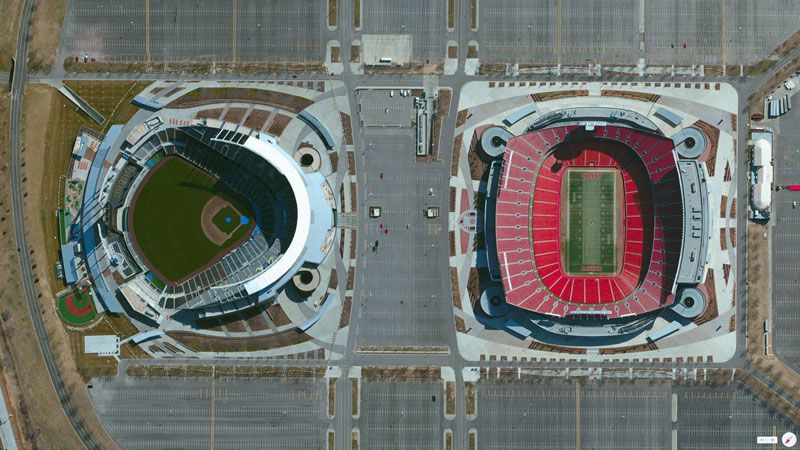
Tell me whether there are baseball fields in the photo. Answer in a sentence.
Yes, there's a baseball field down there.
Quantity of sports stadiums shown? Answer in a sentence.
In total, there are 2 sports stadiums in the scene.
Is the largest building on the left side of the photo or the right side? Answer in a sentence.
The largest building is on the right side of the image.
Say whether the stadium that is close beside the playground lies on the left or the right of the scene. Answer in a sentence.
It is on the left.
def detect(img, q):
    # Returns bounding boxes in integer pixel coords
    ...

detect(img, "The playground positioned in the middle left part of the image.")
[65,179,84,214]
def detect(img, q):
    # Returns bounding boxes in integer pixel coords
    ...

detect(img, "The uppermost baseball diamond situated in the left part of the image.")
[130,152,259,288]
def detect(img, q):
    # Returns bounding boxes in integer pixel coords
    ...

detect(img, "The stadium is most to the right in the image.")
[480,107,712,337]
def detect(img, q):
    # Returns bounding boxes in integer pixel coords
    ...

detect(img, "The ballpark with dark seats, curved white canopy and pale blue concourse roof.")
[81,116,338,326]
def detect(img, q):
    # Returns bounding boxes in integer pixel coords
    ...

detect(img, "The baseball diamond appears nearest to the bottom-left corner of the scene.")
[59,284,98,324]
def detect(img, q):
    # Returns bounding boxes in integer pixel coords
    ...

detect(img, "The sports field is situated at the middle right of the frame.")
[560,166,623,277]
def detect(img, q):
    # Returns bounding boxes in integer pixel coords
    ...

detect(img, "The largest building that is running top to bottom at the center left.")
[61,245,77,284]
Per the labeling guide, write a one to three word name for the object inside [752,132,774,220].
building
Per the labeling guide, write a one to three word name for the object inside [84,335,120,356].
building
